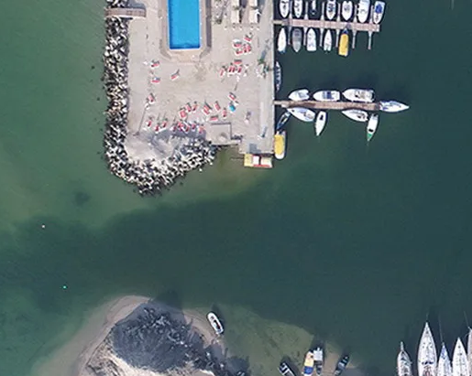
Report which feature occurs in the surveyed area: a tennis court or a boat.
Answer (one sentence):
This aerial view contains a boat.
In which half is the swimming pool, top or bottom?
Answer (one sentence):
The swimming pool is in the top half of the image.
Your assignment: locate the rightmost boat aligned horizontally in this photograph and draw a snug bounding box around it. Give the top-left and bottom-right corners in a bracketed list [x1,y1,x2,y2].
[380,99,409,113]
